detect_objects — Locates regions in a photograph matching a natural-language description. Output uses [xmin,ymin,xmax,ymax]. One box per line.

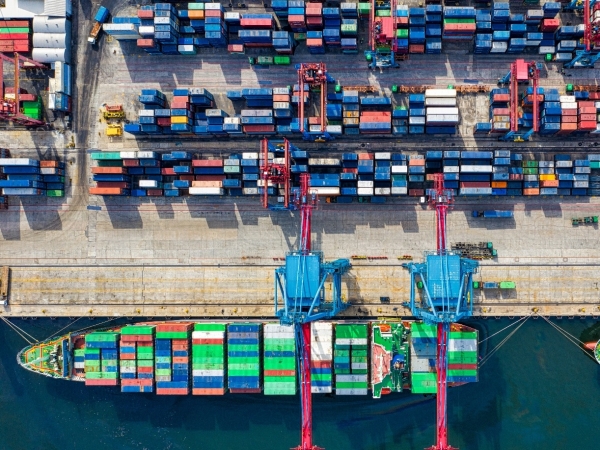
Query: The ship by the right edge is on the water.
[578,338,600,362]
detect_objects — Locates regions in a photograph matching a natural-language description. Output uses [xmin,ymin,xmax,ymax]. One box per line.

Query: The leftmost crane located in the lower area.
[274,173,352,450]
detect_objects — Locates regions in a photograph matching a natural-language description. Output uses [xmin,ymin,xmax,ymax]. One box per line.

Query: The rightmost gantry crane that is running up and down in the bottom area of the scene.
[401,173,475,450]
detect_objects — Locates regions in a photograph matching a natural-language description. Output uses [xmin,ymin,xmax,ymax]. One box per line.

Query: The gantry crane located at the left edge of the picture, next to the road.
[0,53,59,128]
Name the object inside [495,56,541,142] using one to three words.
container crane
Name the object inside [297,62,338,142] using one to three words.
container crane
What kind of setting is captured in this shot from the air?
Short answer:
port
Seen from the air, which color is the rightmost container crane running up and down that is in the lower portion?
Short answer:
blue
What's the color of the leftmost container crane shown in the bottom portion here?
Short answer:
blue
